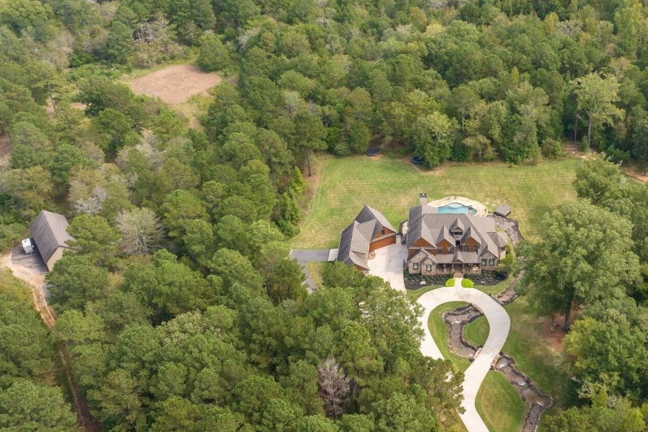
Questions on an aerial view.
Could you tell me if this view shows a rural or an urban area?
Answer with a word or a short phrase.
rural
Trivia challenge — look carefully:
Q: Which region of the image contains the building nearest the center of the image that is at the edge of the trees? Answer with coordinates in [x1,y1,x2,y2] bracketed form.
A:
[336,205,399,278]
